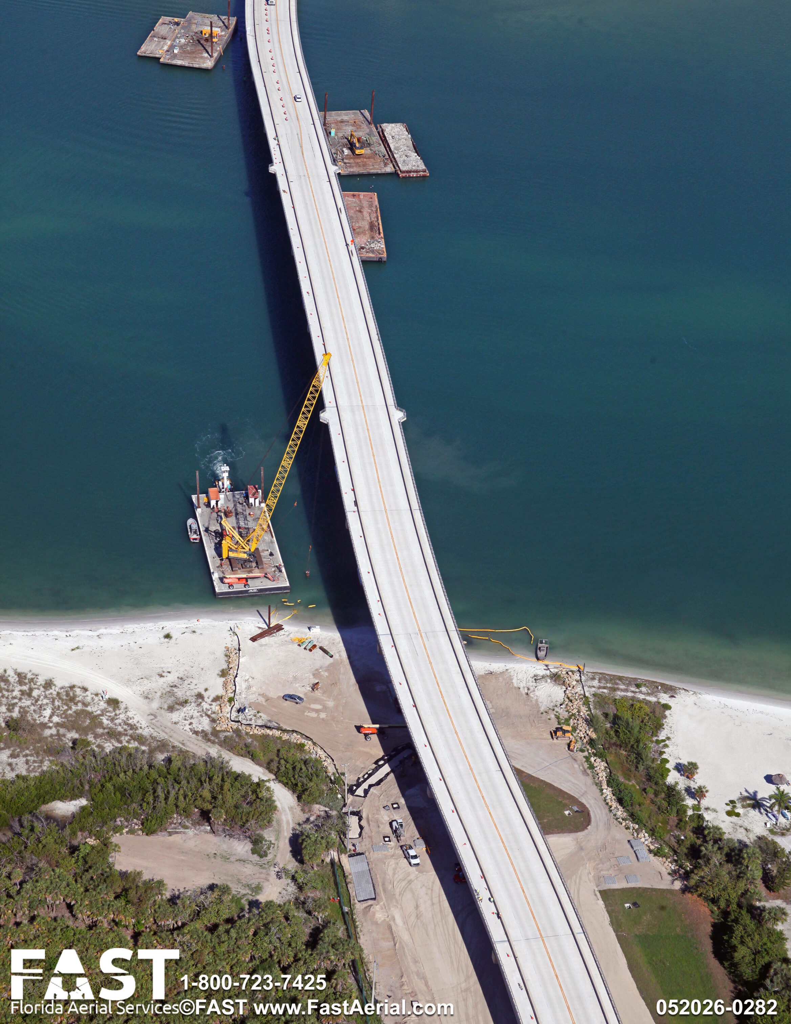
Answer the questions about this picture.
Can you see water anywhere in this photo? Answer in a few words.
Yes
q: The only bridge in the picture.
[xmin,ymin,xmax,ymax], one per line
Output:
[245,0,628,1024]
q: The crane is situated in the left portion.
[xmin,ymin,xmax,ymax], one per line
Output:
[213,353,336,575]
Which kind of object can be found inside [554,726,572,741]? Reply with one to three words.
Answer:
work vehicle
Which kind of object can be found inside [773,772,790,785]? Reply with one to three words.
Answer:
umbrella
